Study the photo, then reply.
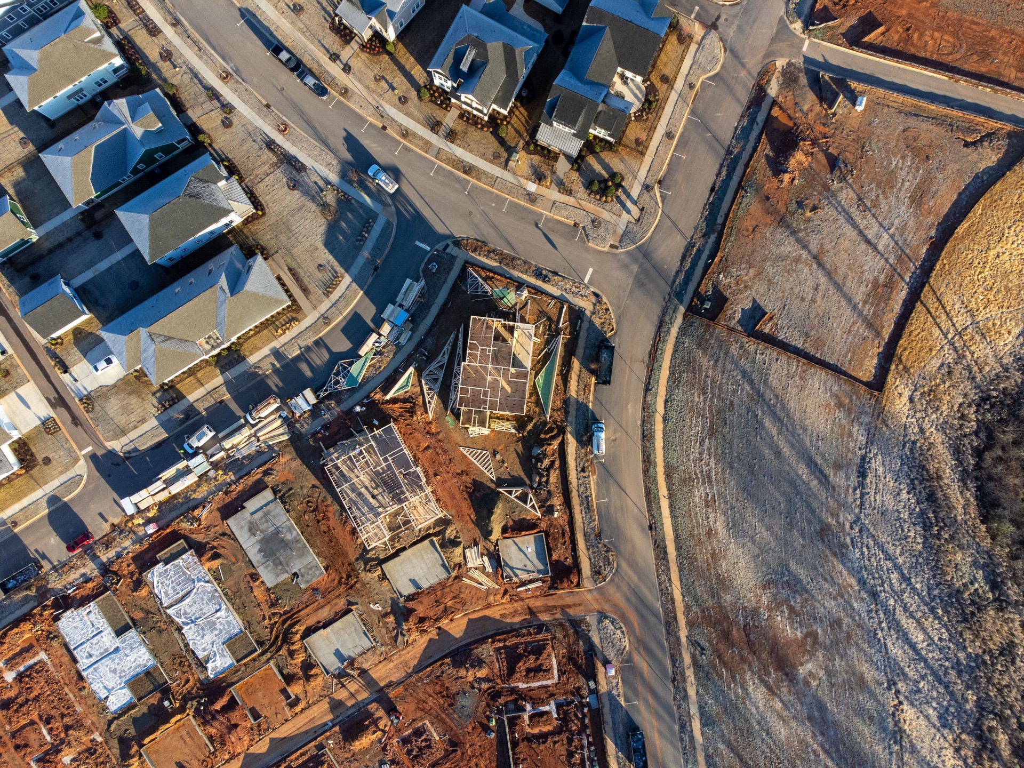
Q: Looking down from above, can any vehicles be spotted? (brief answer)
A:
Yes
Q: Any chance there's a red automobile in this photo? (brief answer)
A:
Yes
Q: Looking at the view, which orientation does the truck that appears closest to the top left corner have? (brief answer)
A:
on a diagonal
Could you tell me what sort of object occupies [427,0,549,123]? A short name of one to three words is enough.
house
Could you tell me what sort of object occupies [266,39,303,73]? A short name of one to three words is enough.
truck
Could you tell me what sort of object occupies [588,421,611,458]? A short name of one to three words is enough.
vehicle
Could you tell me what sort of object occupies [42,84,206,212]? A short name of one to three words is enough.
building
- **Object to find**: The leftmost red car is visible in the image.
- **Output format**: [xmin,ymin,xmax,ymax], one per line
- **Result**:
[62,532,93,556]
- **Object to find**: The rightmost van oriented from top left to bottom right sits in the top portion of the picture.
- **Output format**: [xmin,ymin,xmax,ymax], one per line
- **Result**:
[365,161,400,192]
